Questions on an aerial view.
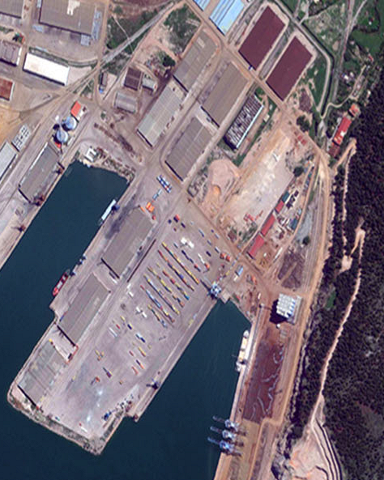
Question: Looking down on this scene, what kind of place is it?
port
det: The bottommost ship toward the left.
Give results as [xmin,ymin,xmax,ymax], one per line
[54,270,70,293]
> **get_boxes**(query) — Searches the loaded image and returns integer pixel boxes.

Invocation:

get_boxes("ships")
[102,200,116,220]
[54,270,70,293]
[236,330,250,371]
